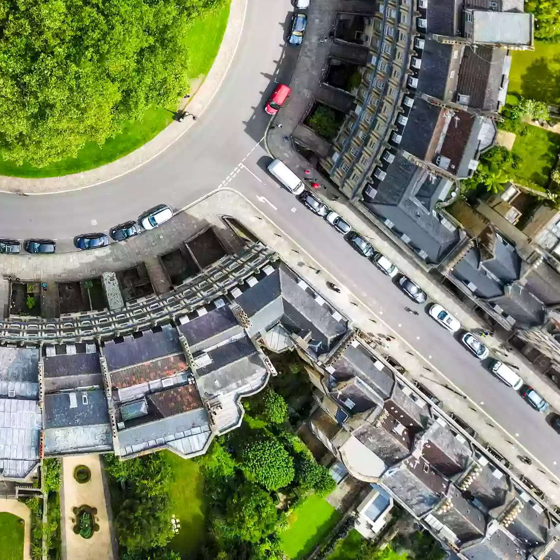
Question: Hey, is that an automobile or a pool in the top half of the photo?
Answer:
automobile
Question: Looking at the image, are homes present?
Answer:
Yes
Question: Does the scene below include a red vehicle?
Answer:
Yes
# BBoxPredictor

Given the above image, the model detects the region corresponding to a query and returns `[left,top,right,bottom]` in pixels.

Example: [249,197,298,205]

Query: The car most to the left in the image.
[0,239,21,254]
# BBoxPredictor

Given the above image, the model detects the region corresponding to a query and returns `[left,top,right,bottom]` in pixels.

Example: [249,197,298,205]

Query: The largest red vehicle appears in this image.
[265,79,292,117]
